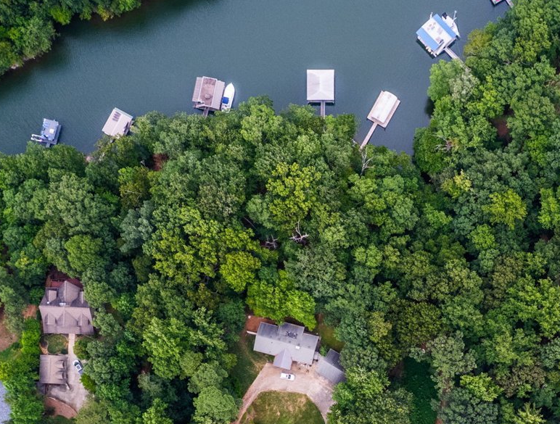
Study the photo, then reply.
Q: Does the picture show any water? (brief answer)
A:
Yes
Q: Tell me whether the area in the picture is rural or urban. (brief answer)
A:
rural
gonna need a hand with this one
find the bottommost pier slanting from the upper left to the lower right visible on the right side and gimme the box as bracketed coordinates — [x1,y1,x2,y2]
[416,15,474,73]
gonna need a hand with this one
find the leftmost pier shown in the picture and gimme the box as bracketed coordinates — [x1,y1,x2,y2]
[40,118,62,145]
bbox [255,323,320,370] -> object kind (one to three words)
house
